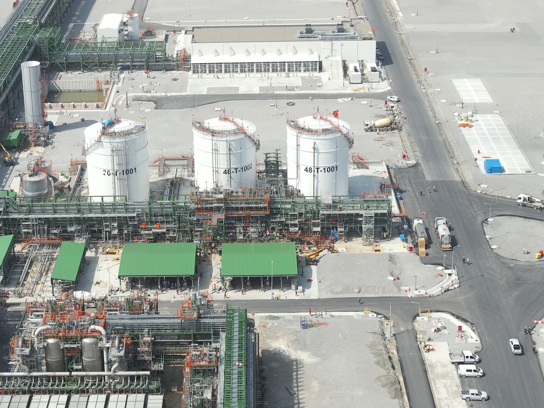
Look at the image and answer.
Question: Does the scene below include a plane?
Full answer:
No, there is no plane in the image.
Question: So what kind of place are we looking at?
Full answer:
What you see here is an industrial area.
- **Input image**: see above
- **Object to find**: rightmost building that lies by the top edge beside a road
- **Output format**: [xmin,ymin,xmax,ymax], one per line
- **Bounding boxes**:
[189,15,376,80]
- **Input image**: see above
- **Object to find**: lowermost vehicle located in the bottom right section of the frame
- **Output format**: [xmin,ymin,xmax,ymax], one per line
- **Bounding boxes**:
[459,386,490,400]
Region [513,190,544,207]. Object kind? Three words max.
vehicle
